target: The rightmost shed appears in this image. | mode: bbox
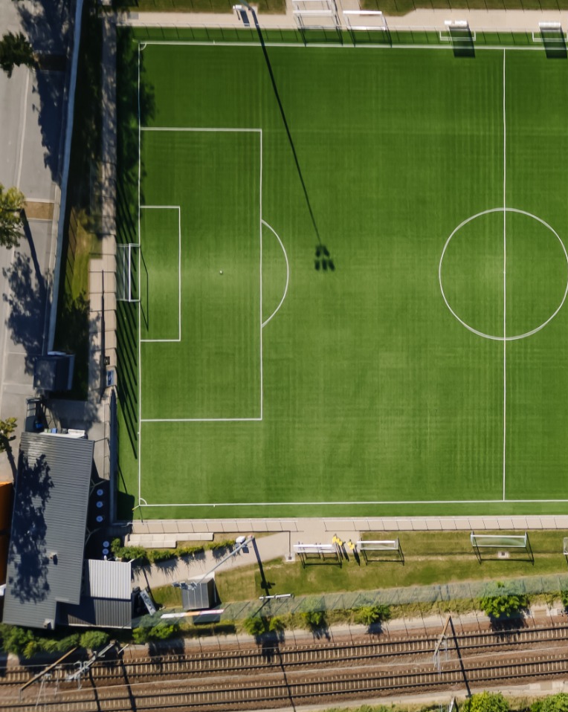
[184,576,214,610]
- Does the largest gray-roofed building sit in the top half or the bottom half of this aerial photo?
bottom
